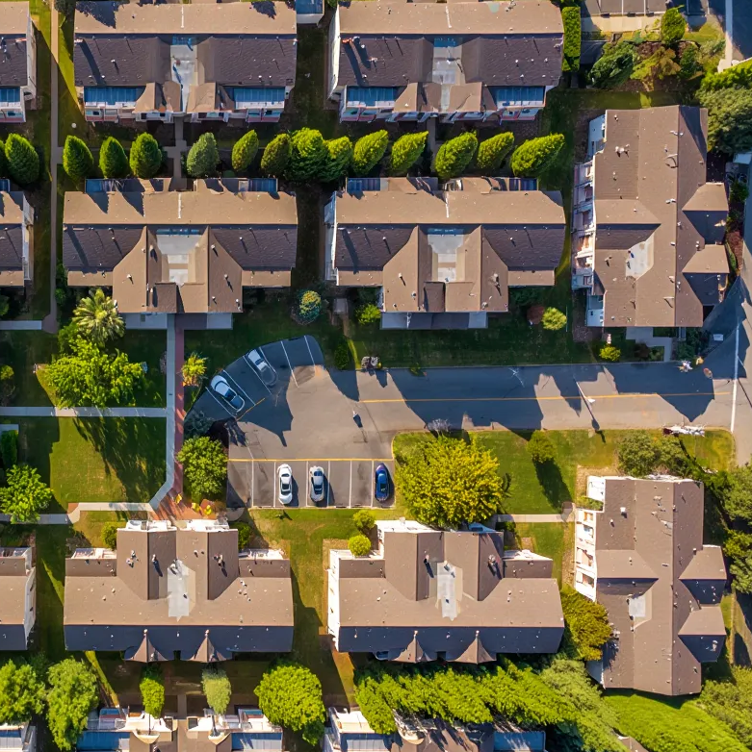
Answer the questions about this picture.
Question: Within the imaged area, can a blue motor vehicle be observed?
Yes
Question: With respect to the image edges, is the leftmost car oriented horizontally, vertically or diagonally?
diagonally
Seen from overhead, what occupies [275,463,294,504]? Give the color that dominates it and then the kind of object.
white car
